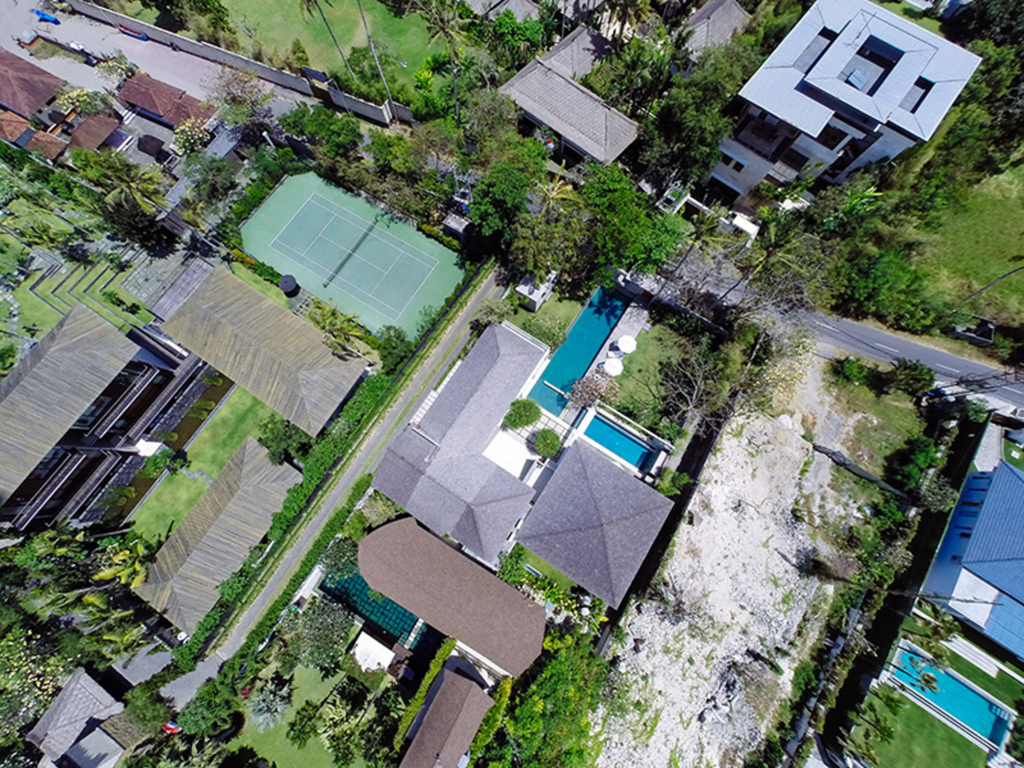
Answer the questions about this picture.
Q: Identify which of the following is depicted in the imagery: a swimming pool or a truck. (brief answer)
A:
swimming pool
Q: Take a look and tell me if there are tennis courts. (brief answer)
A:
Yes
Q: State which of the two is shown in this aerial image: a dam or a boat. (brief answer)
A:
boat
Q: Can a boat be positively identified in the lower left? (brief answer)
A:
No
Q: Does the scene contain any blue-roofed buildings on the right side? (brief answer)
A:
Yes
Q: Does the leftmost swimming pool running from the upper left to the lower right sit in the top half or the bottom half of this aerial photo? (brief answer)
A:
bottom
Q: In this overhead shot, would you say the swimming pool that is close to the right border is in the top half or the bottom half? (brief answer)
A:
bottom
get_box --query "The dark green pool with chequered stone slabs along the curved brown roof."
[320,570,445,657]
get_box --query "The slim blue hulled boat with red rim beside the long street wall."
[115,23,149,42]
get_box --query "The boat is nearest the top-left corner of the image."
[28,5,64,33]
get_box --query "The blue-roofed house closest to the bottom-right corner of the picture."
[920,459,1024,655]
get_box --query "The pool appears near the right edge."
[886,636,1014,753]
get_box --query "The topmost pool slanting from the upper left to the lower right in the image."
[584,412,661,472]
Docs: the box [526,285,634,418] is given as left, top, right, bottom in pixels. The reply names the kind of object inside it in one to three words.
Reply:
swimming pool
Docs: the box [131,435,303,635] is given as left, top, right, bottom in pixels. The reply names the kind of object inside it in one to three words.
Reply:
building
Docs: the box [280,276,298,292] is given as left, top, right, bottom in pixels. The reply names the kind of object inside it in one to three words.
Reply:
umbrella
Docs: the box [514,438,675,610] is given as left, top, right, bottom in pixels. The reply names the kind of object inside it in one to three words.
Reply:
house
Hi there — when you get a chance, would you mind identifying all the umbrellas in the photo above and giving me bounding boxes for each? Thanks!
[617,336,636,354]
[280,276,298,292]
[603,358,623,377]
